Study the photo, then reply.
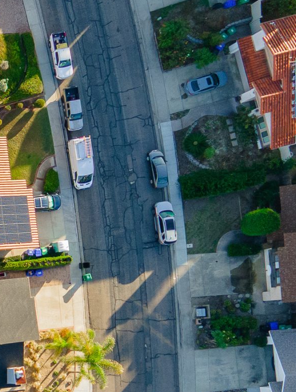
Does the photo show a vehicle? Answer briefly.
Yes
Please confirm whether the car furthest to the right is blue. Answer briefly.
Yes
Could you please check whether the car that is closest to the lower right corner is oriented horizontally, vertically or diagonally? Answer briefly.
vertically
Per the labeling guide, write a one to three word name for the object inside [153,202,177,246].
car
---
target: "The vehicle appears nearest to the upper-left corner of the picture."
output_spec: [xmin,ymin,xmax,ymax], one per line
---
[50,31,74,80]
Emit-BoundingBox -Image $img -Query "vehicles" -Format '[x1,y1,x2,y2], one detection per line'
[33,194,64,213]
[61,85,85,132]
[183,71,228,96]
[153,202,177,246]
[145,149,167,190]
[50,31,74,80]
[70,135,97,190]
